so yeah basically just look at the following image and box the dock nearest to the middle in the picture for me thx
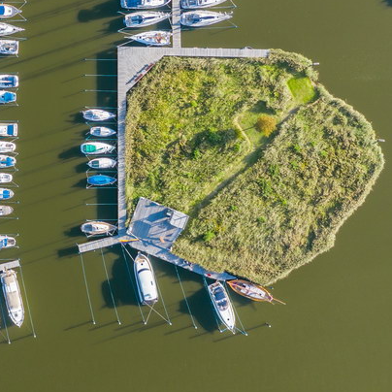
[77,234,122,253]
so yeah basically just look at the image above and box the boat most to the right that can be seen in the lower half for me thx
[226,280,286,308]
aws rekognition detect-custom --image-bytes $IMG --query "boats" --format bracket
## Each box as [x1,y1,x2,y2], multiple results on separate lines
[84,157,120,169]
[0,73,24,89]
[206,277,237,336]
[76,141,116,155]
[81,222,120,235]
[116,0,172,10]
[0,172,17,184]
[0,205,14,217]
[0,122,23,137]
[0,90,17,105]
[137,250,160,308]
[0,22,26,36]
[0,3,23,18]
[90,126,116,137]
[181,0,232,9]
[226,280,286,308]
[120,11,174,31]
[0,155,20,169]
[0,40,23,56]
[181,11,235,28]
[0,189,15,200]
[128,31,172,47]
[82,108,116,122]
[0,268,23,328]
[0,235,19,249]
[0,141,18,153]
